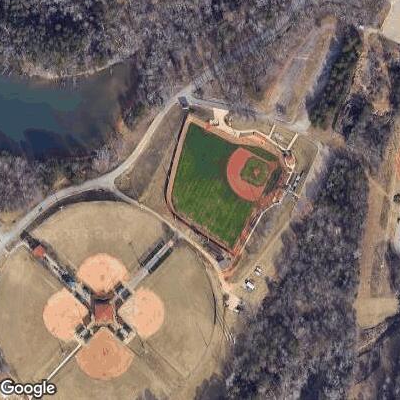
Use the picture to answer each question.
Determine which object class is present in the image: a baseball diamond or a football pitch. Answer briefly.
baseball diamond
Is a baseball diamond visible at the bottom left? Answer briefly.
Yes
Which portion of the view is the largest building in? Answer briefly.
bottom left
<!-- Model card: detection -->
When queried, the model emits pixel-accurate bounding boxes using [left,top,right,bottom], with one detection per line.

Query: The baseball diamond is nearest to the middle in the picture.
[165,113,288,256]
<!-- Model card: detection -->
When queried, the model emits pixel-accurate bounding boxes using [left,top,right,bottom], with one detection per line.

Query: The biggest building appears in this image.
[94,302,113,324]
